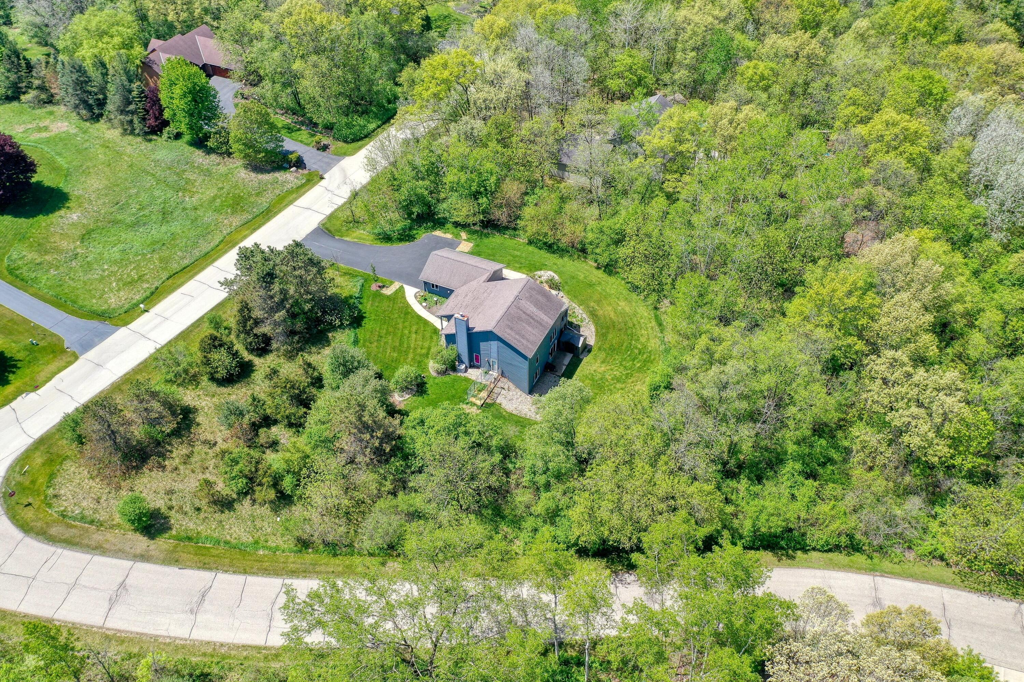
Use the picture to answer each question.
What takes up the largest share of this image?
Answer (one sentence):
The bulk of the photo consists of trees.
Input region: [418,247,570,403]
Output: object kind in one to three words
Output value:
house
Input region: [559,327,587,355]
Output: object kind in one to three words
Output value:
shed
